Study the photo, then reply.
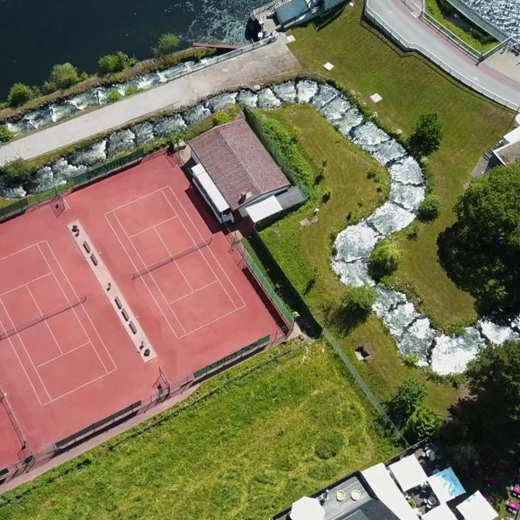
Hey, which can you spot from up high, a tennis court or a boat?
tennis court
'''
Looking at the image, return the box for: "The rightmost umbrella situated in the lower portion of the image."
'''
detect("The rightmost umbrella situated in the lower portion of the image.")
[457,491,499,520]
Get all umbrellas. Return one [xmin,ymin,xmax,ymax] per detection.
[389,455,427,492]
[429,468,466,503]
[422,505,456,520]
[457,491,499,520]
[286,494,328,520]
